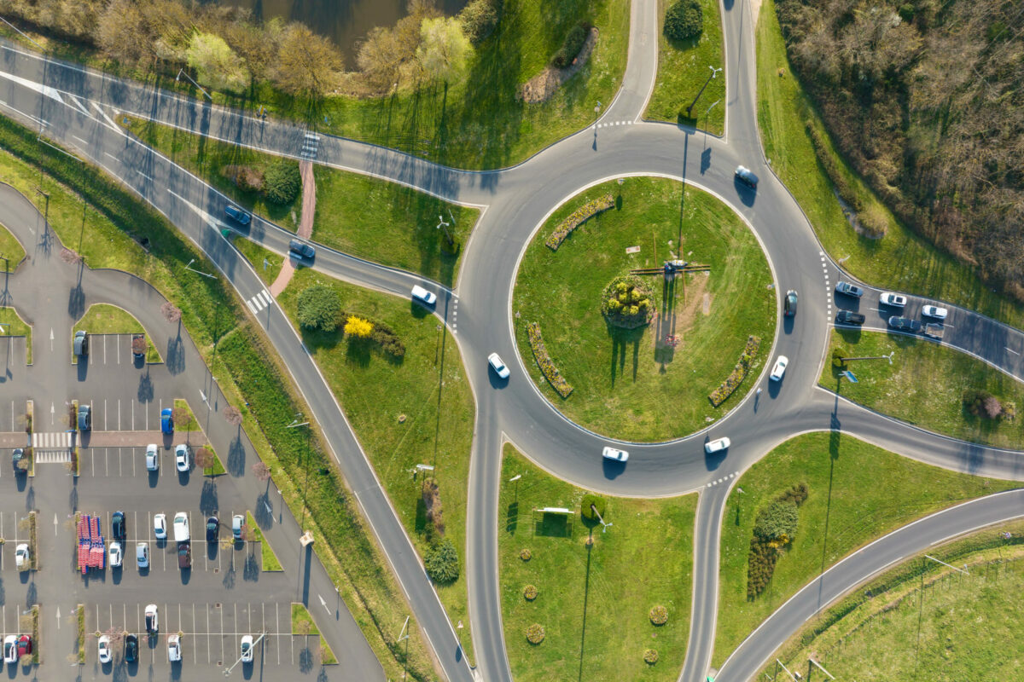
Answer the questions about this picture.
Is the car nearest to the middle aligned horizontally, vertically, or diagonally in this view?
diagonally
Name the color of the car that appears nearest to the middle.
white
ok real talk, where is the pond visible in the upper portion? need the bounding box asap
[219,0,467,73]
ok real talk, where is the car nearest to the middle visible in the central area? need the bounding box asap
[487,354,510,379]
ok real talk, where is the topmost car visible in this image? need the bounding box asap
[735,167,758,186]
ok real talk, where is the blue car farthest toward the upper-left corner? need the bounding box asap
[224,205,252,224]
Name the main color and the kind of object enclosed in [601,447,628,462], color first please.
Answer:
white car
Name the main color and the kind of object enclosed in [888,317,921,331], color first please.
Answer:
blue vehicle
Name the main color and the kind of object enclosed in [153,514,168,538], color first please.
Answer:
white car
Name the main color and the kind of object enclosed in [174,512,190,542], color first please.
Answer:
white vehicle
